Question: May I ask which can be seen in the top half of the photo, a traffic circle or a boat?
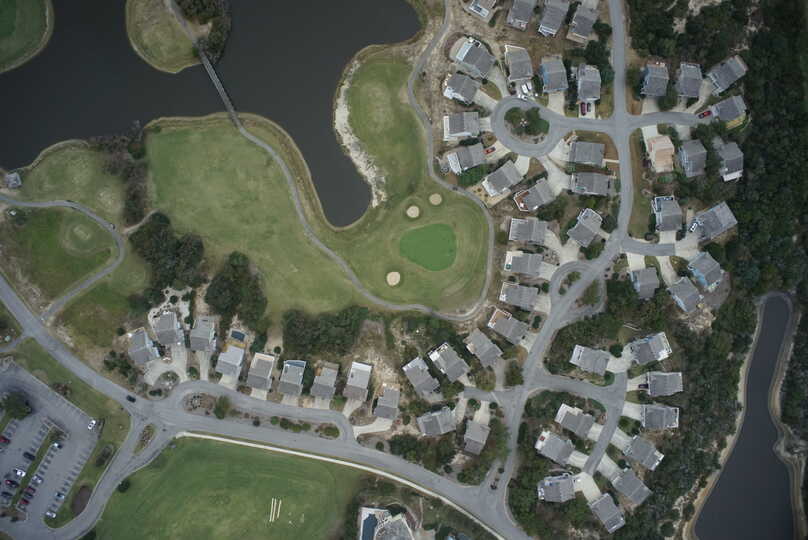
traffic circle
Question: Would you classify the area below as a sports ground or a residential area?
residential area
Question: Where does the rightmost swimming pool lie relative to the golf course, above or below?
below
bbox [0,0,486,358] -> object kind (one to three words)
golf course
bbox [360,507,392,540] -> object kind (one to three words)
swimming pool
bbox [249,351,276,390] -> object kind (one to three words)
house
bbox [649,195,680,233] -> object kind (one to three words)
house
